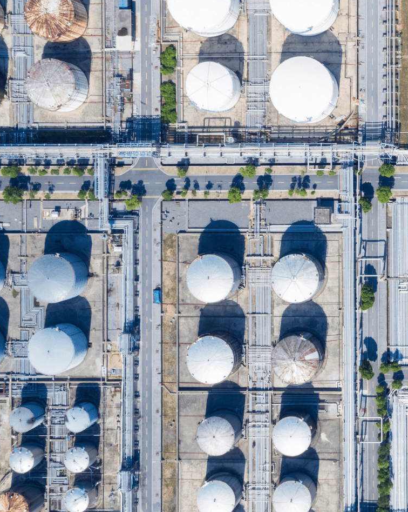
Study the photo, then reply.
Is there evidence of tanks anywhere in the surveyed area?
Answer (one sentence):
Yes, there's a tank here.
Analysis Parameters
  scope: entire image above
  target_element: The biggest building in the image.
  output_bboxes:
[116,10,135,52]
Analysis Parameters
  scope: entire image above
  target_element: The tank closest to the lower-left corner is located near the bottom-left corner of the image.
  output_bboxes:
[0,480,45,512]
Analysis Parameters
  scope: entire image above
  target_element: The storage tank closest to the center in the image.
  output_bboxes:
[186,251,244,303]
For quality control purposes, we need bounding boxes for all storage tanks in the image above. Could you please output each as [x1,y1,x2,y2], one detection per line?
[269,57,342,126]
[167,0,242,39]
[26,320,90,374]
[186,330,244,384]
[23,0,89,45]
[63,480,99,512]
[196,470,245,512]
[26,250,91,303]
[24,59,90,115]
[184,61,242,114]
[272,409,318,456]
[0,480,45,512]
[271,251,326,302]
[8,440,45,473]
[270,0,342,39]
[64,402,100,433]
[272,330,326,383]
[273,470,318,512]
[186,251,244,303]
[64,440,99,473]
[196,409,244,456]
[7,401,46,433]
